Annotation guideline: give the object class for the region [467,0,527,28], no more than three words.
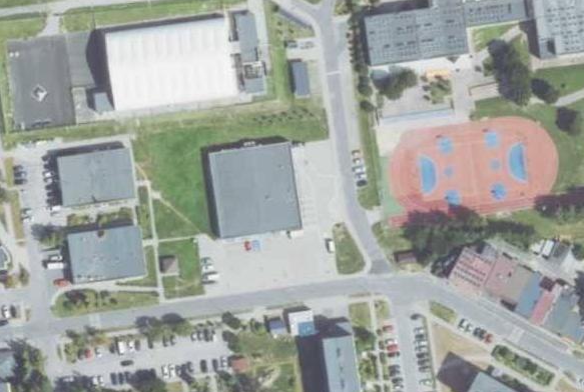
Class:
building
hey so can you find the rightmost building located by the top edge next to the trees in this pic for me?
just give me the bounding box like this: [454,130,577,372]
[533,0,584,61]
